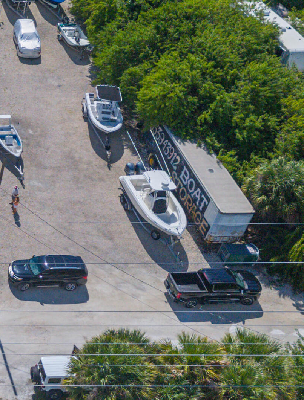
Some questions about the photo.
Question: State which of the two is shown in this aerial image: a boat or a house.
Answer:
boat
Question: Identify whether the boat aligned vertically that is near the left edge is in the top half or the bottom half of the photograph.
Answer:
top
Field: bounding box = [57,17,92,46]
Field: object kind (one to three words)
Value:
boat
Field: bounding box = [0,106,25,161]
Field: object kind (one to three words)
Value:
boat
